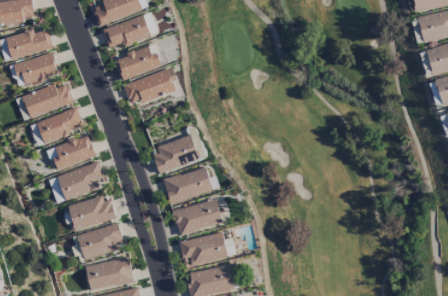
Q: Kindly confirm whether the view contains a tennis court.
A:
No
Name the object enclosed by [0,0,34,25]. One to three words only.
house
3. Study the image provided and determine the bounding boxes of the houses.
[15,84,72,121]
[0,0,34,25]
[30,110,83,147]
[116,43,160,79]
[154,135,199,171]
[175,198,229,235]
[414,0,448,10]
[46,138,94,170]
[0,30,51,62]
[182,233,236,266]
[414,11,448,44]
[124,70,184,104]
[85,258,134,292]
[50,164,104,204]
[73,223,124,264]
[188,265,234,296]
[96,0,149,26]
[104,12,159,48]
[9,53,58,86]
[429,78,448,108]
[420,46,448,78]
[64,196,115,230]
[165,166,220,202]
